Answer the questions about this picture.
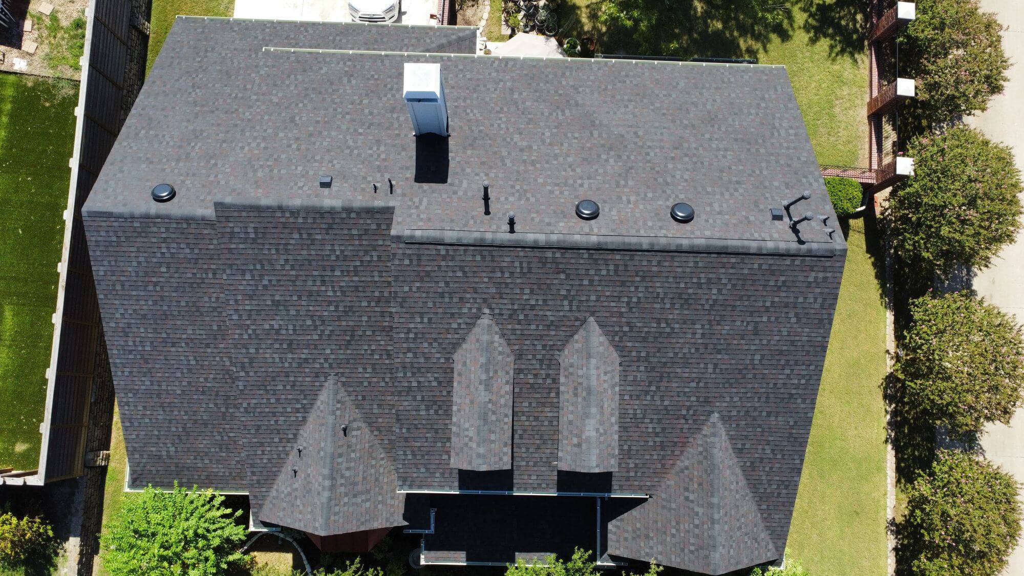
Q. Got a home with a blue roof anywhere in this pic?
No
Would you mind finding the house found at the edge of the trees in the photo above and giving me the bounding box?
[83,15,847,575]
